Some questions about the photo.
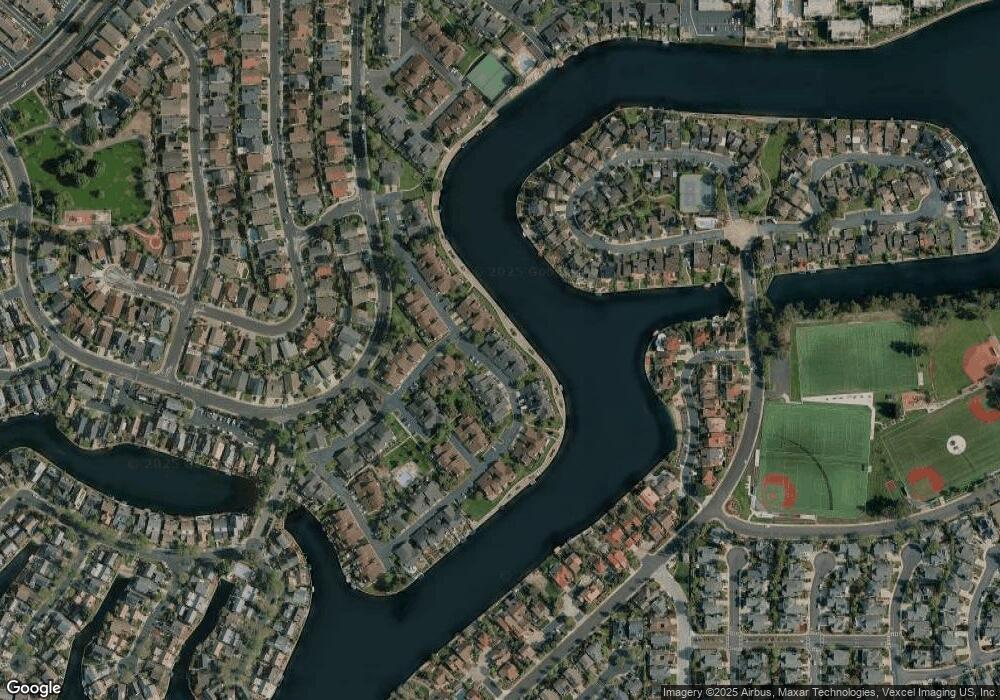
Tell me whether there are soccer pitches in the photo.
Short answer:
Yes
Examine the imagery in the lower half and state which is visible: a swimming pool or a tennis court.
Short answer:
swimming pool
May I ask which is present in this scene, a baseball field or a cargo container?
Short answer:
baseball field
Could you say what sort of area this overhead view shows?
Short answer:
residential area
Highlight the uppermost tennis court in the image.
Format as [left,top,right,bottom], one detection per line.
[466,52,516,101]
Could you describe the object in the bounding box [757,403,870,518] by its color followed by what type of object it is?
green sports field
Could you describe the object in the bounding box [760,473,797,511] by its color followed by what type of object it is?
red baseball field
